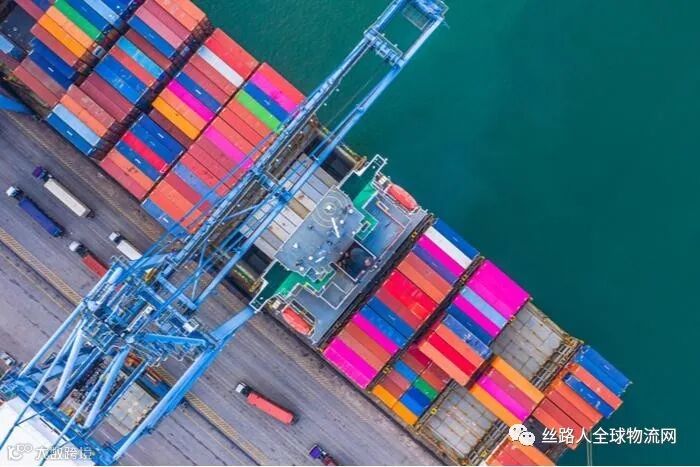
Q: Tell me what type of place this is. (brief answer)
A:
port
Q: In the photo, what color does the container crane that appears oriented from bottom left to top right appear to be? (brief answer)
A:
blue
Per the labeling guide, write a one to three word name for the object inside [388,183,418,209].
boat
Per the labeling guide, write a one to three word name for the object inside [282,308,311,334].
boat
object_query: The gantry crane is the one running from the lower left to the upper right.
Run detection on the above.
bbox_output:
[0,0,458,467]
